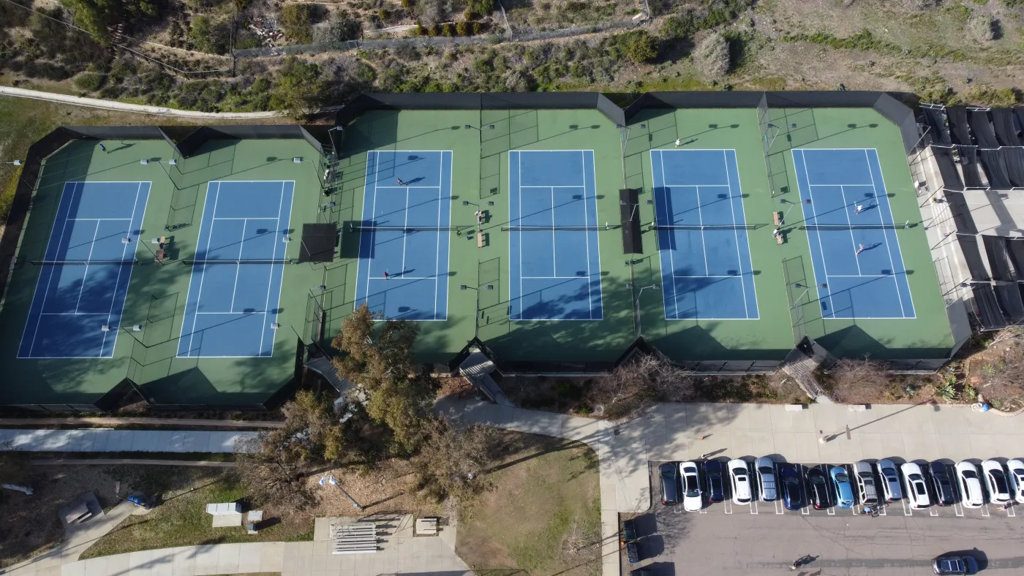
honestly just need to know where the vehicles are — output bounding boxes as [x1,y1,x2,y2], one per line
[804,467,830,511]
[829,469,853,508]
[658,462,679,506]
[930,554,977,576]
[778,466,802,510]
[900,464,927,509]
[702,459,724,503]
[852,462,879,506]
[954,465,981,505]
[926,462,955,506]
[875,459,902,502]
[679,464,702,509]
[1001,460,1024,504]
[753,458,776,502]
[727,460,750,504]
[979,461,1008,505]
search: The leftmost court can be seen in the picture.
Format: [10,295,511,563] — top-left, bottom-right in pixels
[0,140,185,415]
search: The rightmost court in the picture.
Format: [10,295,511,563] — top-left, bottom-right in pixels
[757,107,955,374]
